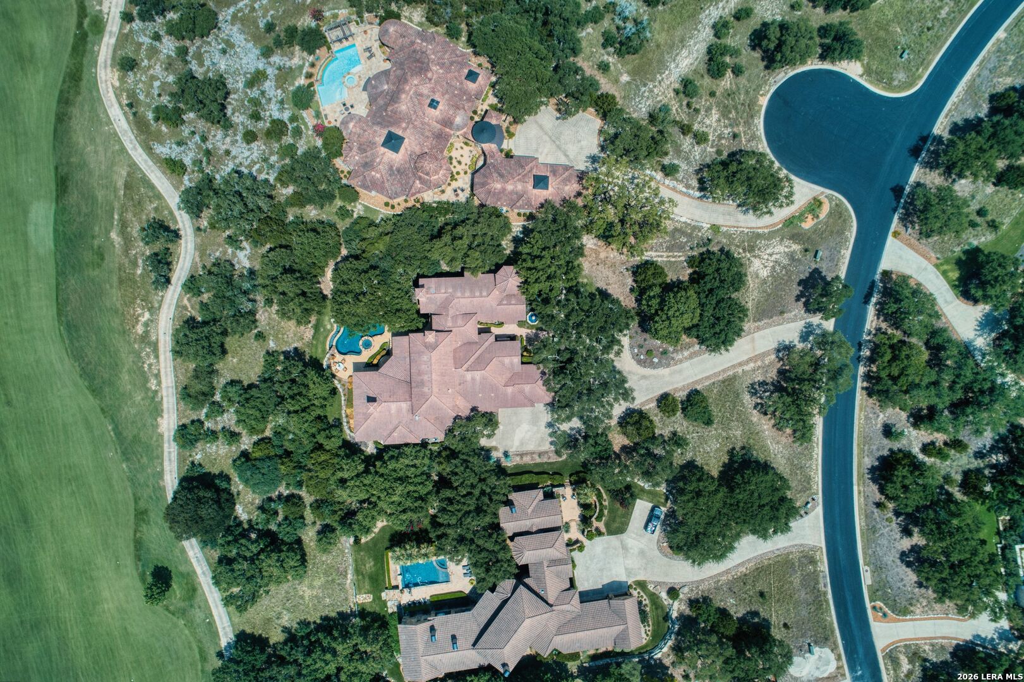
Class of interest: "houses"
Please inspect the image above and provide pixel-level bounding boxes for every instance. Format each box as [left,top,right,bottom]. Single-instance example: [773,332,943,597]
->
[338,16,492,202]
[499,488,563,537]
[397,561,643,682]
[353,312,554,445]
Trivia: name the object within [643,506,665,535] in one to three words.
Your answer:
truck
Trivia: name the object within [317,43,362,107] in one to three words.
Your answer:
swimming pool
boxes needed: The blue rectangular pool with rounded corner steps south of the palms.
[399,557,451,590]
